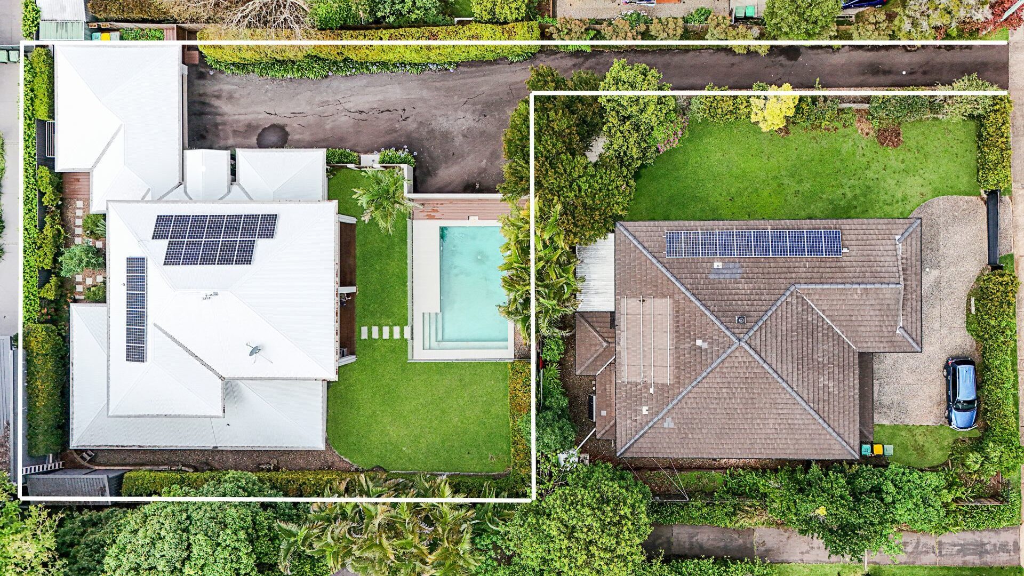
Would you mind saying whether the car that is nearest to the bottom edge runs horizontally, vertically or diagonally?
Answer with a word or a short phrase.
vertically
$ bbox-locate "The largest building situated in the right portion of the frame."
[574,216,923,461]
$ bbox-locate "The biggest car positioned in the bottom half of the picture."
[941,359,980,434]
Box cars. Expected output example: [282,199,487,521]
[941,359,980,434]
[840,0,894,15]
